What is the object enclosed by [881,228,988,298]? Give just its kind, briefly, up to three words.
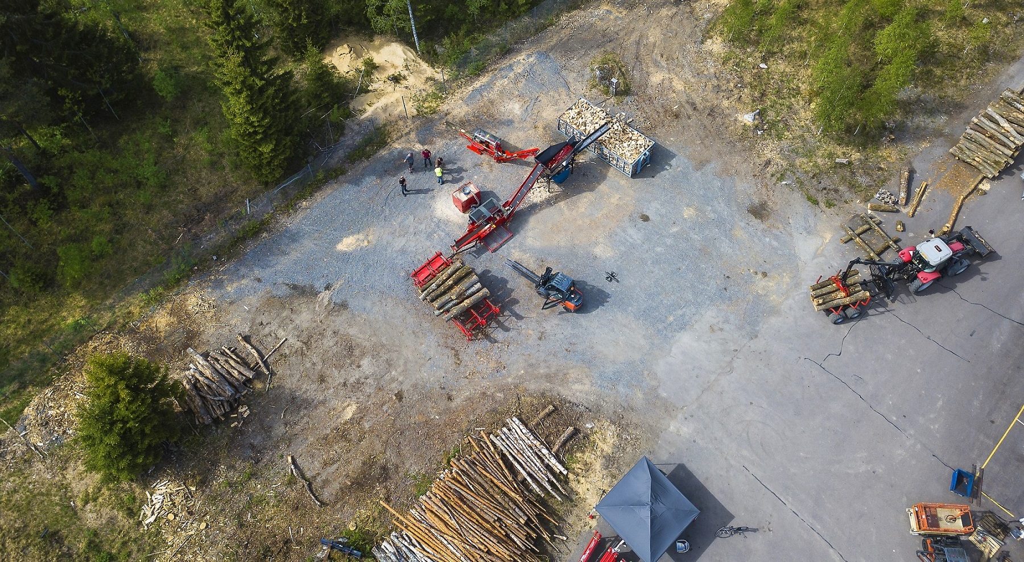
work vehicle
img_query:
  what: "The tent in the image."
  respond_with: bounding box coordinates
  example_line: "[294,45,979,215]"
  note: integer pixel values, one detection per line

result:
[591,456,700,562]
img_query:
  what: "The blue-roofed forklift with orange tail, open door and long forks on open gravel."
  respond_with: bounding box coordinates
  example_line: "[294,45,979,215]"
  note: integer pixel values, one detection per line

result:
[506,263,585,313]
